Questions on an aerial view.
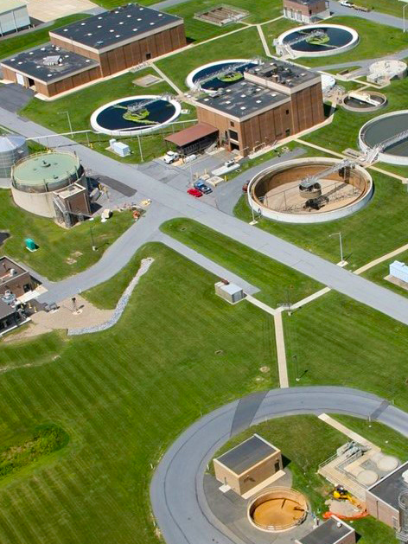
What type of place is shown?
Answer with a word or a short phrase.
industrial area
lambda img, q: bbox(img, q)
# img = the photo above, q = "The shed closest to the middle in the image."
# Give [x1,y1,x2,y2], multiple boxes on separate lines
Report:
[215,278,245,303]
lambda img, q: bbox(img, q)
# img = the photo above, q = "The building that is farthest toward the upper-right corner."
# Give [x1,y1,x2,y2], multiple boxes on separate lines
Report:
[283,0,333,21]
